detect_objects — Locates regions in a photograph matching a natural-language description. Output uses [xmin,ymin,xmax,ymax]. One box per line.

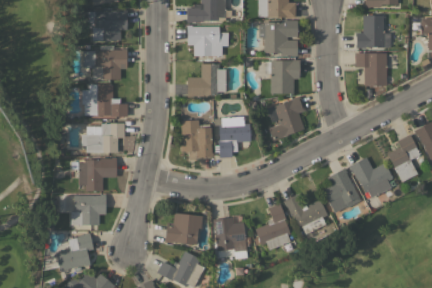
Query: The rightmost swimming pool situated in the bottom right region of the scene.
[341,206,362,220]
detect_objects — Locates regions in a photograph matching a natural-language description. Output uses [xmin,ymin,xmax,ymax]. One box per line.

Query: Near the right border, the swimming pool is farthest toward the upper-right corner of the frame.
[411,41,424,62]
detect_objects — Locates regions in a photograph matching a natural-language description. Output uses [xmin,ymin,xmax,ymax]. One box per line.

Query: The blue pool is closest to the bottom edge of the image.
[218,262,232,286]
